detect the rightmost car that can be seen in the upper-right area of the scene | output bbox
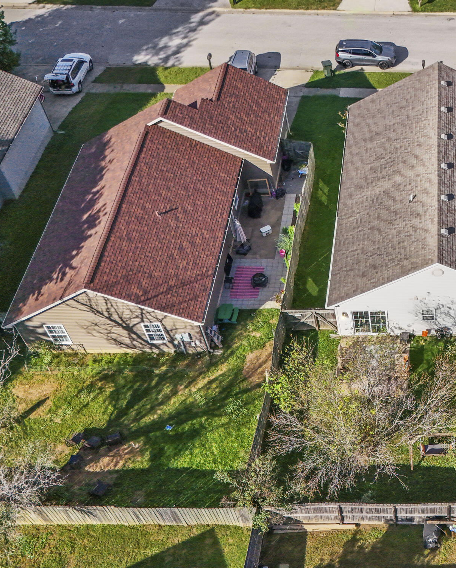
[333,37,399,69]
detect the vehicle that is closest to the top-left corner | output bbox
[41,52,93,98]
